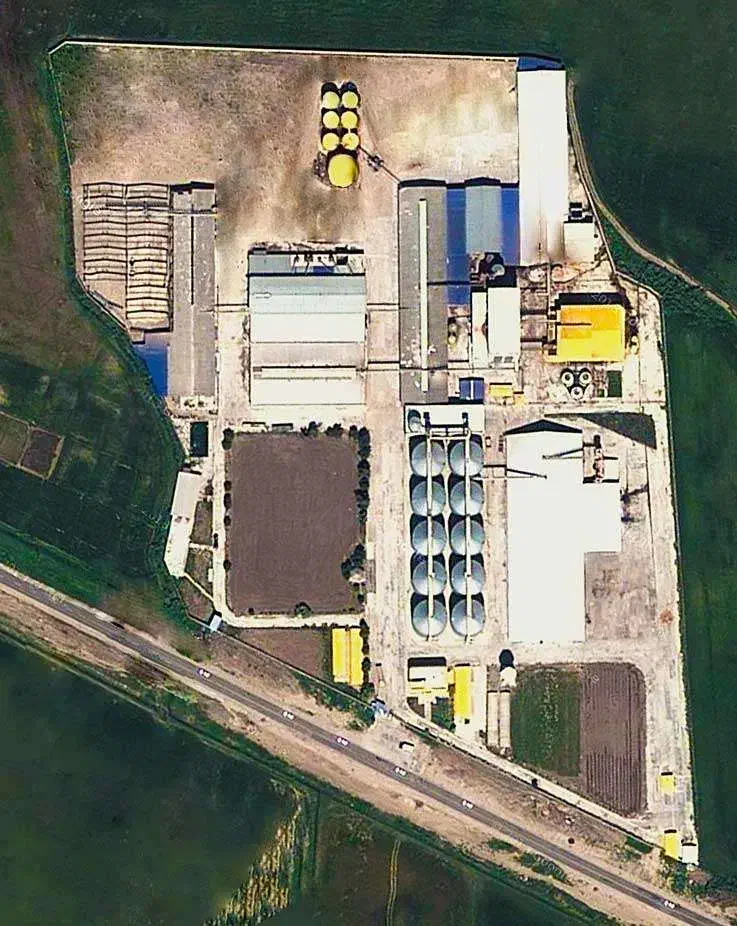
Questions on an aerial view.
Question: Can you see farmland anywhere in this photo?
Yes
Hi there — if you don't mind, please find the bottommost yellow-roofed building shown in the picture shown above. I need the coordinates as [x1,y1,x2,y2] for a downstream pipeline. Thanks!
[665,834,680,859]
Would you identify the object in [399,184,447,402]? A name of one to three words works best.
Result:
shed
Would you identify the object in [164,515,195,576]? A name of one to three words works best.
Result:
building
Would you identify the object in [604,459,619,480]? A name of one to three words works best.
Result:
house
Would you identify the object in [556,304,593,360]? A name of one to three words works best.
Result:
building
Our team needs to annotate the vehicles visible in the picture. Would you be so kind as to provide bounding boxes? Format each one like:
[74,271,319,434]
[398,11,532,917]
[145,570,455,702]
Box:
[200,669,211,677]
[665,901,676,908]
[284,710,295,718]
[463,799,473,807]
[112,621,123,629]
[337,737,348,744]
[401,744,413,751]
[395,766,407,774]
